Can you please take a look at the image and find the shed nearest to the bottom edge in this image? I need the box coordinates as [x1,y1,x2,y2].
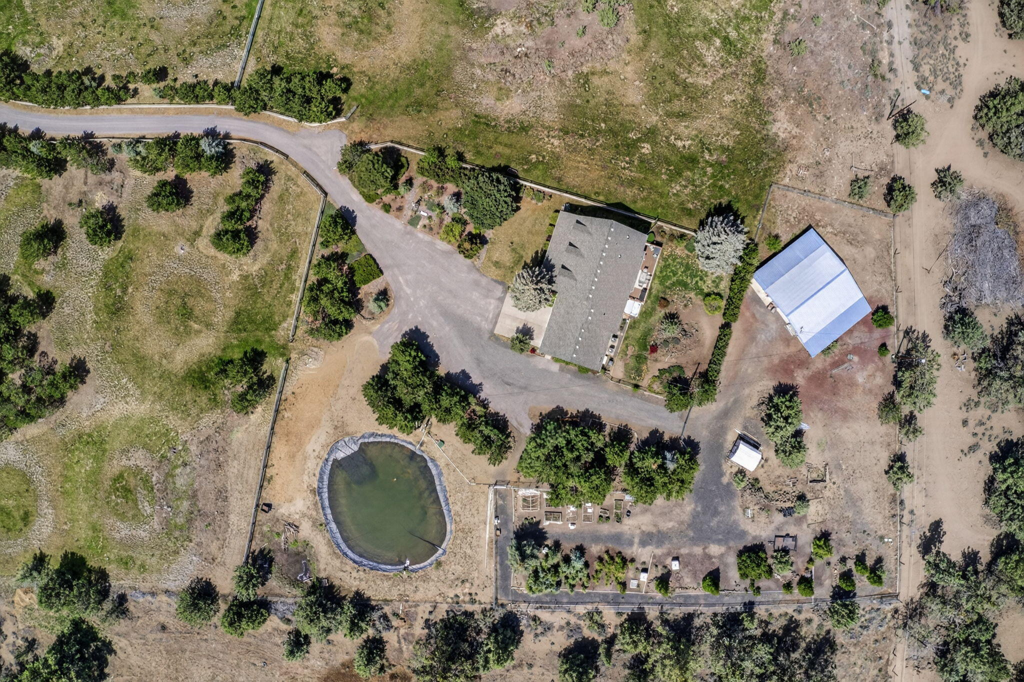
[724,435,761,469]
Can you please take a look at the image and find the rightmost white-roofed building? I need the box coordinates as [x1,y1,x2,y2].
[749,229,872,355]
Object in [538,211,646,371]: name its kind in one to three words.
house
